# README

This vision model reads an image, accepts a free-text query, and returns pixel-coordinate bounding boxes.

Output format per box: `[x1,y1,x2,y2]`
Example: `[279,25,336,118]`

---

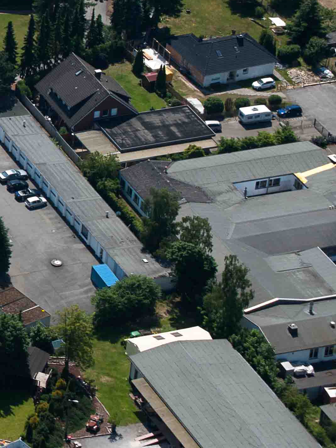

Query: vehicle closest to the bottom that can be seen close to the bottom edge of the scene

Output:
[87,413,102,434]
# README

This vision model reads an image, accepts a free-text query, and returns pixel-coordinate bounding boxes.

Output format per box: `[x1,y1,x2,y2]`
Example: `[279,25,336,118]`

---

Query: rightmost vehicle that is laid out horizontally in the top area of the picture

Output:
[277,104,303,117]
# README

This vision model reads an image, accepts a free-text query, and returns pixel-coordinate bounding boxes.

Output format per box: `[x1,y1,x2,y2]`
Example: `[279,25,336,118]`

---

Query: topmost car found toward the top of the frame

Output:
[251,76,276,90]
